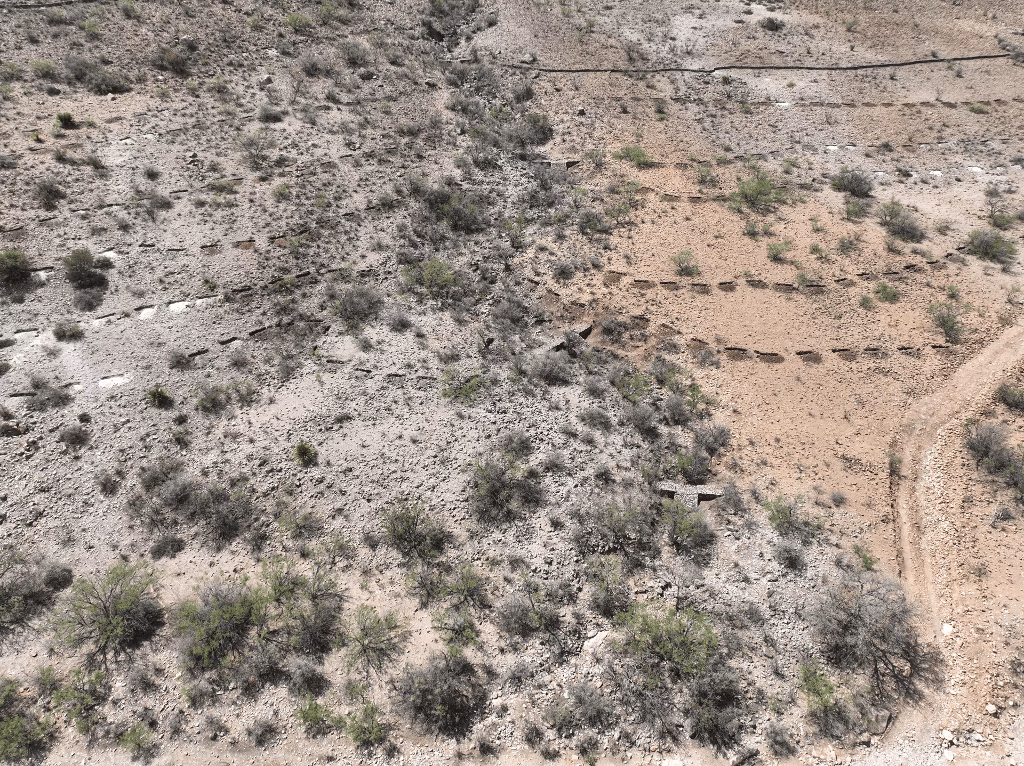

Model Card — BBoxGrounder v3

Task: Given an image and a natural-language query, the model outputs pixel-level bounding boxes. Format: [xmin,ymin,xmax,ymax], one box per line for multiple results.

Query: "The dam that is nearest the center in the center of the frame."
[540,324,592,362]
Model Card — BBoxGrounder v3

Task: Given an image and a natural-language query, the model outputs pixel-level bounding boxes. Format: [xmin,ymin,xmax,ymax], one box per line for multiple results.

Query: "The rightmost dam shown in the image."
[656,482,724,516]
